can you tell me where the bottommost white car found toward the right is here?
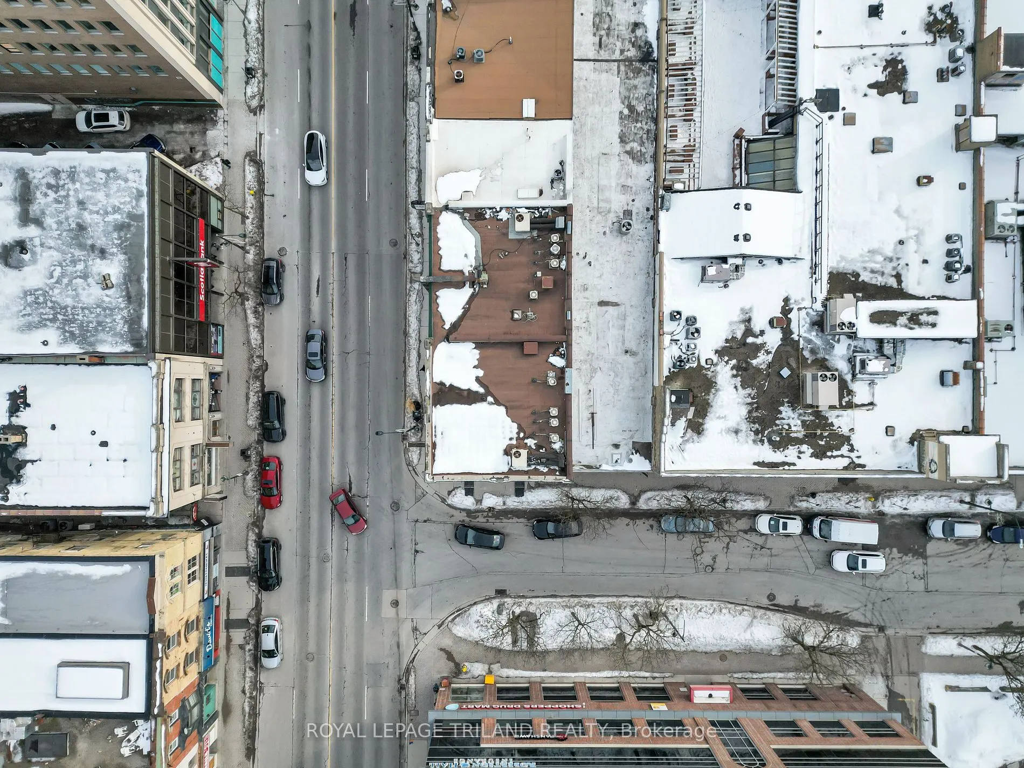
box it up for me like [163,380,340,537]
[828,548,886,575]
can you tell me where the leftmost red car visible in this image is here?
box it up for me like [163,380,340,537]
[258,457,285,509]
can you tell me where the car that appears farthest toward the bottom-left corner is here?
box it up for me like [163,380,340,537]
[258,617,284,668]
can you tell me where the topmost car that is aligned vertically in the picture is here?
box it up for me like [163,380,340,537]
[303,131,330,187]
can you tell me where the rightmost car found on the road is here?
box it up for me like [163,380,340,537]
[985,522,1024,547]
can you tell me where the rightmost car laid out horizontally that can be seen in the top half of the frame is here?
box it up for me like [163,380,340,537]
[124,133,170,155]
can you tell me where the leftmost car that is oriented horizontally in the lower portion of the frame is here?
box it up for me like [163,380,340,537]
[454,523,505,550]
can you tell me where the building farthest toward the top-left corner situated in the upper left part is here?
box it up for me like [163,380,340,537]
[0,0,223,126]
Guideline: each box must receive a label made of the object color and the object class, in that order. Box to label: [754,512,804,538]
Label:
white car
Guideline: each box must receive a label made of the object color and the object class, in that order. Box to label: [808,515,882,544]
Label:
white van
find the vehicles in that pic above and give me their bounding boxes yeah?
[259,391,287,442]
[924,516,983,542]
[754,512,804,538]
[77,107,133,135]
[258,617,284,668]
[660,512,715,536]
[532,517,583,542]
[124,133,170,155]
[808,515,882,544]
[303,131,330,187]
[258,457,285,509]
[985,522,1024,547]
[303,330,328,383]
[828,548,886,575]
[259,257,286,306]
[330,485,367,537]
[454,523,505,550]
[255,537,283,591]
